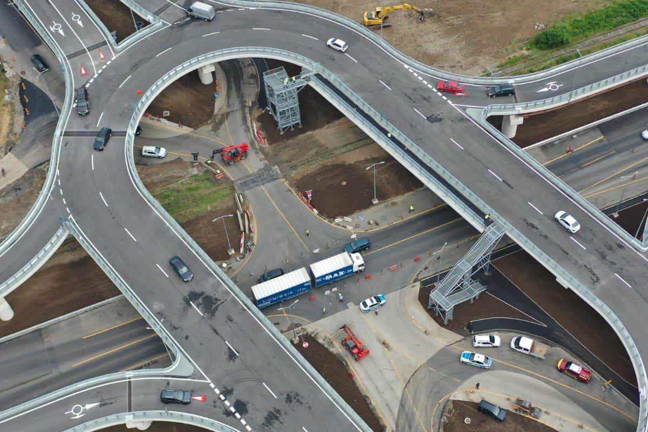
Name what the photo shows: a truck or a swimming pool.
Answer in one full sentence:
There is a truck in the scene.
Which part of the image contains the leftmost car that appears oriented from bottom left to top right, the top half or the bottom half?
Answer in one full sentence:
The top half of the photo is where the leftmost car that appears oriented from bottom left to top right is.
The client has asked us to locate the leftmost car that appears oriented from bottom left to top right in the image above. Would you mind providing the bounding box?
[92,125,113,150]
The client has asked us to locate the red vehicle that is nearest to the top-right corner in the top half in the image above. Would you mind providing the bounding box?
[436,79,465,95]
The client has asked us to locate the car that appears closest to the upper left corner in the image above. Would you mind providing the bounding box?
[29,53,50,72]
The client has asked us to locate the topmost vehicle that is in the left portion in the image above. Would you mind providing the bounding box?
[188,2,215,21]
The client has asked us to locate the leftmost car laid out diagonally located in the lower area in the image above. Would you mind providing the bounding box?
[167,254,196,282]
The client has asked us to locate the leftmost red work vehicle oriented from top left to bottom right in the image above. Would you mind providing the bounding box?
[336,322,370,361]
